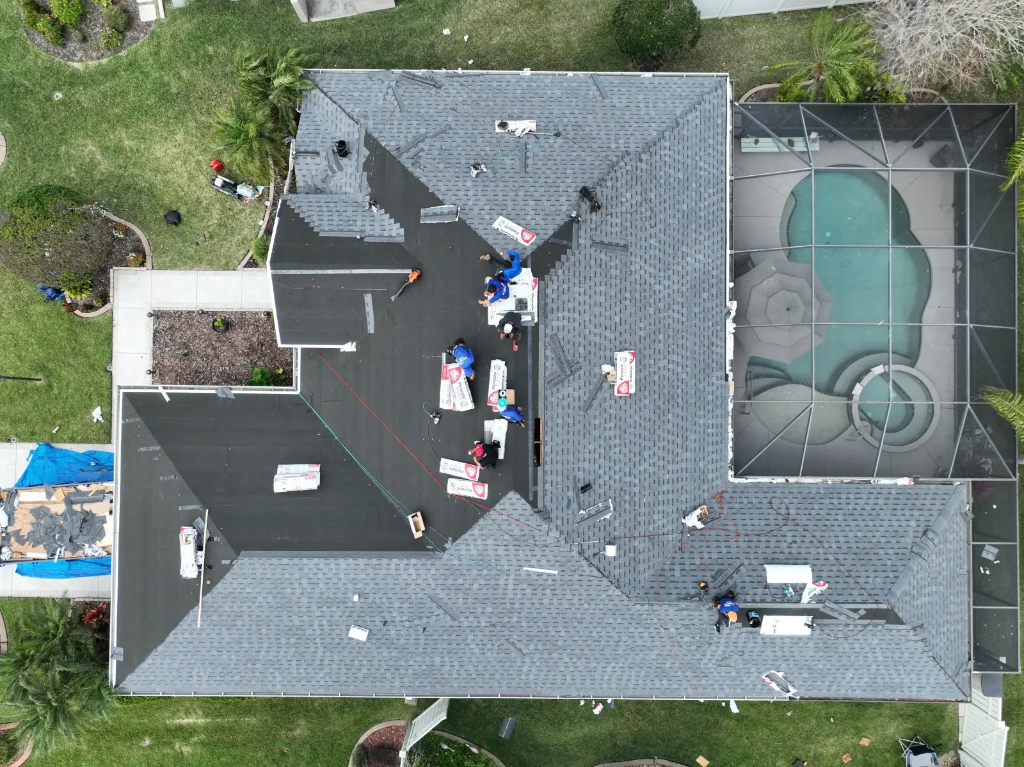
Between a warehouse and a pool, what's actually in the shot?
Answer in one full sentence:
The one in the frame is a pool.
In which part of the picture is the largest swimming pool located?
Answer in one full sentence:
The largest swimming pool is located in the right region of the scene.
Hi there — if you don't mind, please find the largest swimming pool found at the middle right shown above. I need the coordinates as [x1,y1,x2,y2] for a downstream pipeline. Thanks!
[747,164,933,445]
